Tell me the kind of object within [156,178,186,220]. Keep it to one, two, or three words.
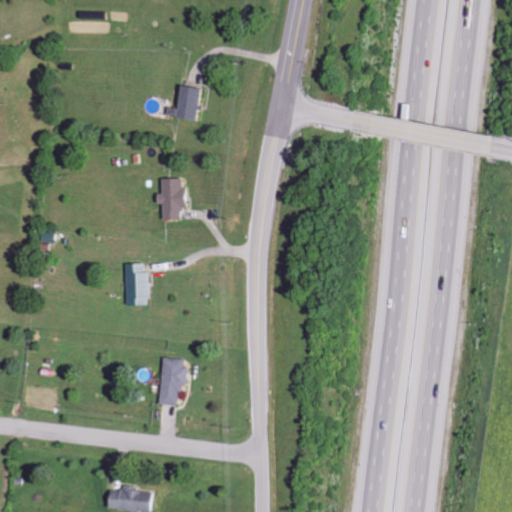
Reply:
house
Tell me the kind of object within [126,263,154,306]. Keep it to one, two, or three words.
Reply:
house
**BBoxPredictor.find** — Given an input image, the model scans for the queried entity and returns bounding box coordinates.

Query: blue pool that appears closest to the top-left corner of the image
[144,98,161,115]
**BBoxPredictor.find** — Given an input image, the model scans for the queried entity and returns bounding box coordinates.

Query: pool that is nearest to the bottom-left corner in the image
[136,366,152,384]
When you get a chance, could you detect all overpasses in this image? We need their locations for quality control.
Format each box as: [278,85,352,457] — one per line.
[358,111,494,158]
